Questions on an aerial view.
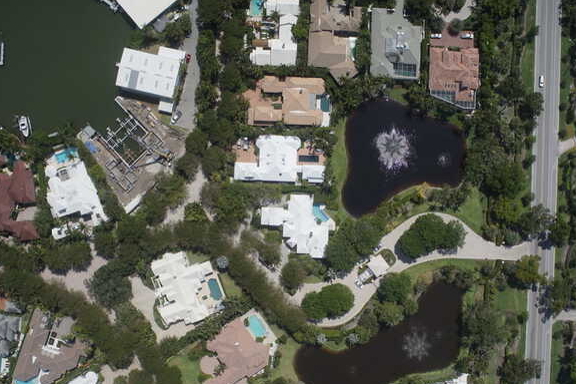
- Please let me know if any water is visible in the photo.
Yes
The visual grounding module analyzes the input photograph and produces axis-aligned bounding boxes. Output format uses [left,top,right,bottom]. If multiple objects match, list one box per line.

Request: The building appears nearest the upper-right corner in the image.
[429,47,481,108]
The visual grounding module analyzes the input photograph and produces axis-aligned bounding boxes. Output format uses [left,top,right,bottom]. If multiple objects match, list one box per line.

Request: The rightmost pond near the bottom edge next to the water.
[295,281,461,384]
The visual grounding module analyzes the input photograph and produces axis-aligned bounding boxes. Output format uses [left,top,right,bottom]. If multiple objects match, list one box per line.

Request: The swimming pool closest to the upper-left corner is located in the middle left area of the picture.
[54,148,78,162]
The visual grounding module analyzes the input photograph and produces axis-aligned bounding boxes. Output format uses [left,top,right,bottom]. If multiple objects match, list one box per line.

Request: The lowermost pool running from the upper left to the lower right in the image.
[250,314,266,335]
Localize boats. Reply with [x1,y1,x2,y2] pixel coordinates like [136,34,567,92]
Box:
[21,115,28,136]
[102,0,116,10]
